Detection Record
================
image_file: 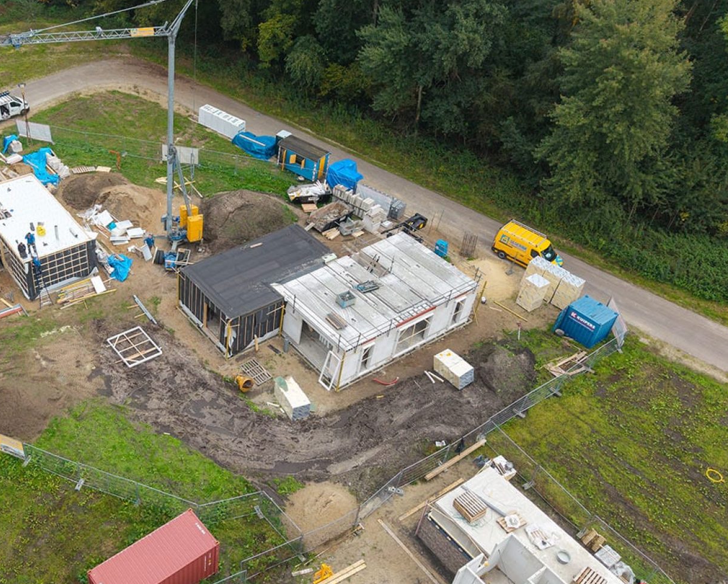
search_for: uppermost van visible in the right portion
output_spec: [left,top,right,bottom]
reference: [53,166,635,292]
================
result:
[493,223,564,269]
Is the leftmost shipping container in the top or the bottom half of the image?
bottom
